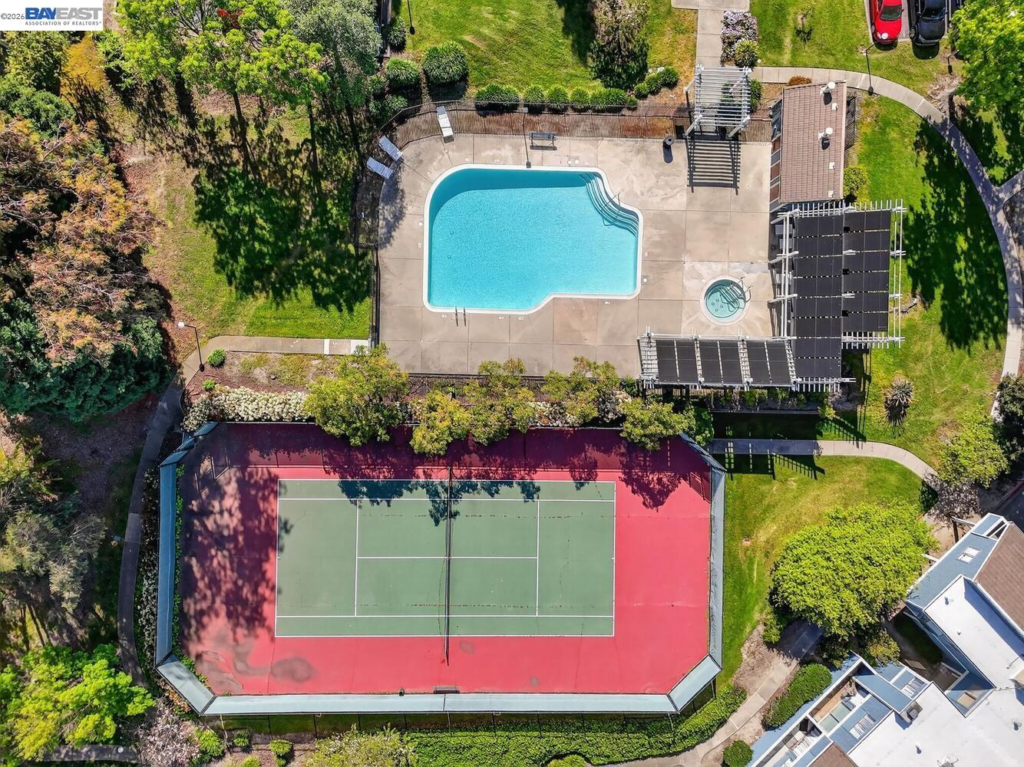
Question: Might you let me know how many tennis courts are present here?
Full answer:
The photo contains exactly 1 tennis court.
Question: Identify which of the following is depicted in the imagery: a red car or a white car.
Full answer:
Visible in the photo is a red car.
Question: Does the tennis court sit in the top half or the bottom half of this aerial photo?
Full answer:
It is in the bottom half that the tennis court appears.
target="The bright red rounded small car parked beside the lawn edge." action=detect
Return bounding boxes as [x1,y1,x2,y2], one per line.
[869,0,903,40]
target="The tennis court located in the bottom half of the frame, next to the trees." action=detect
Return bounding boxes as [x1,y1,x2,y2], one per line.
[171,420,713,696]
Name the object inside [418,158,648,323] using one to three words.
swimming pool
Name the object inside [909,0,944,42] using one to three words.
car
